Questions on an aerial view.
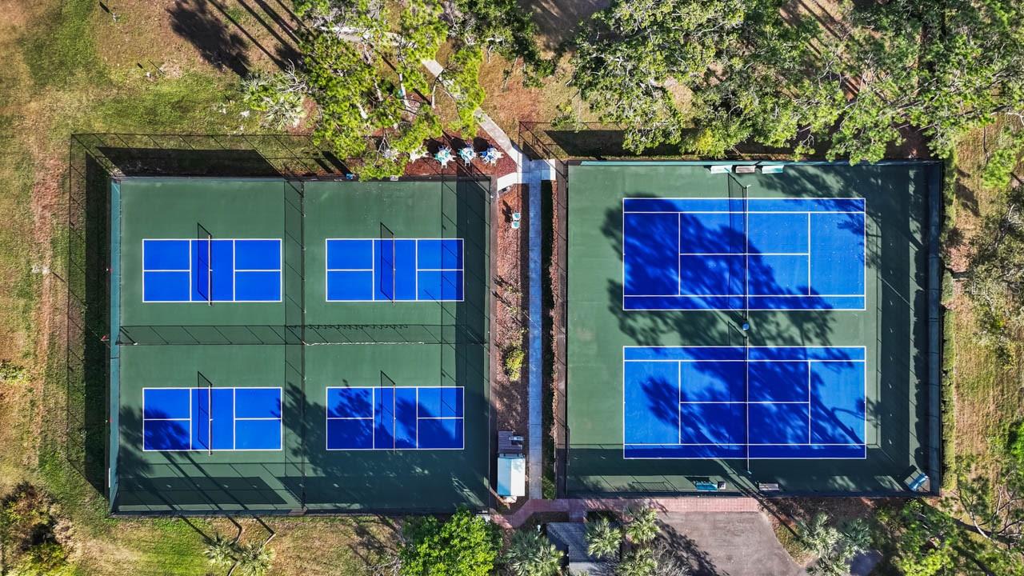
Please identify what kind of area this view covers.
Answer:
sports ground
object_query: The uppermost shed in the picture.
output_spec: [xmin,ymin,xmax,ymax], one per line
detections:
[498,454,526,497]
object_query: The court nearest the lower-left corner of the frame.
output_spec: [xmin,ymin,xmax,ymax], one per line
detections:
[119,346,303,510]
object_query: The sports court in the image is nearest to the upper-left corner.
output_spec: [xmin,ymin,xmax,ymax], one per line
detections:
[119,182,303,344]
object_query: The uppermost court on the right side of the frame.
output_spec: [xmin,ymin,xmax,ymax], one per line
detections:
[567,168,929,329]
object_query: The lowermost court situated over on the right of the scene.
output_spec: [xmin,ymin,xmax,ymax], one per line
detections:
[569,329,929,492]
